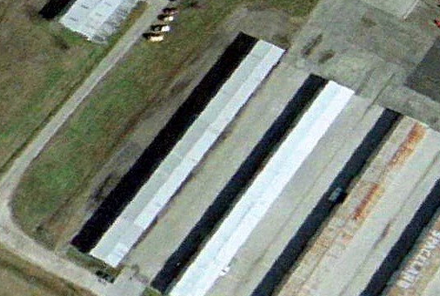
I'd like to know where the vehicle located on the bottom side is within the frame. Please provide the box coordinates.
[329,188,343,202]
